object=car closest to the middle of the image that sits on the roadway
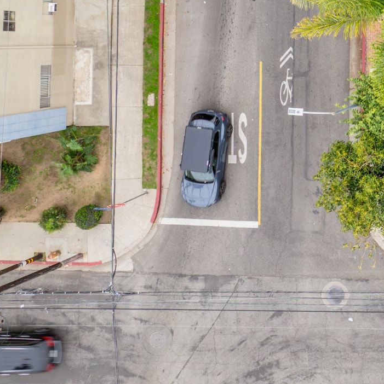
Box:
[180,112,233,203]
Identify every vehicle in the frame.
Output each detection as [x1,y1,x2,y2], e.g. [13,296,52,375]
[0,330,57,381]
[180,112,233,203]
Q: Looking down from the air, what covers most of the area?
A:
paved ground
